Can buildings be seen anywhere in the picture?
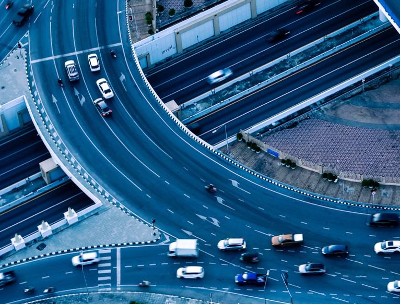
No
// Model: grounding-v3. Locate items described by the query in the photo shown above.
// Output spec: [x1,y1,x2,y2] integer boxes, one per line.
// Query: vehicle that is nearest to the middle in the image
[189,120,205,133]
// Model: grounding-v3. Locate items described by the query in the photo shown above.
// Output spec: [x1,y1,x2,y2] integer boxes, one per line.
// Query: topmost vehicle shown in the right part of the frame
[296,0,320,14]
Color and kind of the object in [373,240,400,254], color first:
white car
